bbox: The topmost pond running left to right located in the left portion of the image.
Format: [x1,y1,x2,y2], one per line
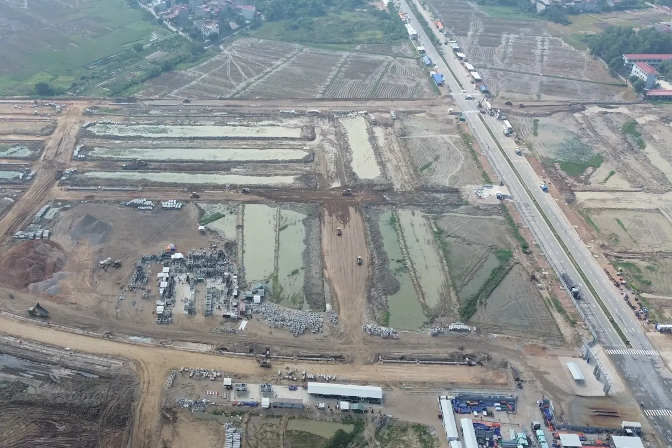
[89,124,303,138]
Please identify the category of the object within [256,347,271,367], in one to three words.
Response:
work vehicle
